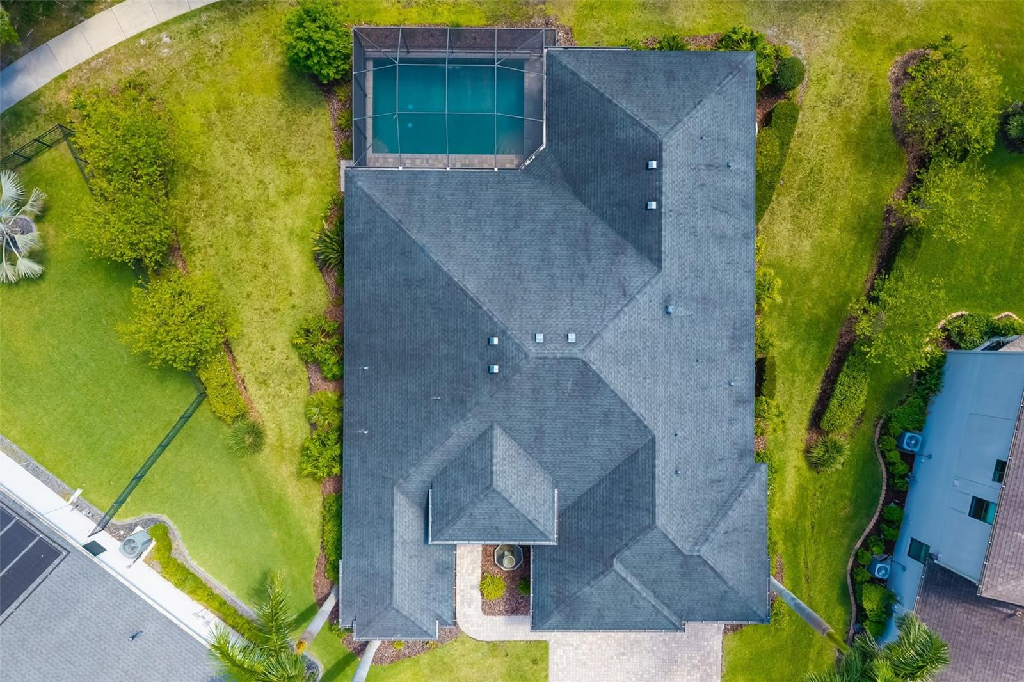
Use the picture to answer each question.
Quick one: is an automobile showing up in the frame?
No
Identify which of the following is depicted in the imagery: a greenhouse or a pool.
pool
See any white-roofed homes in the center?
No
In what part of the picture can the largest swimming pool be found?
top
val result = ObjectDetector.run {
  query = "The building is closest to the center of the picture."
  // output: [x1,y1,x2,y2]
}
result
[340,47,771,646]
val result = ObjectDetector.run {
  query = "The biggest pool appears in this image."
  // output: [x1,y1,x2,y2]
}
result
[373,60,525,154]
